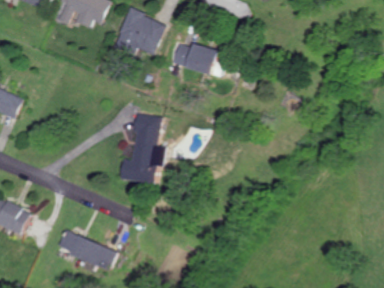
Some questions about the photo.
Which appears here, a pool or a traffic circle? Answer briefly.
pool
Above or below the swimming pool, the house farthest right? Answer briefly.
above it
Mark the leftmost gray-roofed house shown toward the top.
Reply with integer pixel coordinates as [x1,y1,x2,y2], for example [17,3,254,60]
[0,89,26,118]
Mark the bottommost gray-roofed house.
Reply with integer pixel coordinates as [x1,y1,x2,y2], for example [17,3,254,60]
[59,230,118,272]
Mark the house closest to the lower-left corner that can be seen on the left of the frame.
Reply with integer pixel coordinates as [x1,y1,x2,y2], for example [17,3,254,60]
[0,200,32,236]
